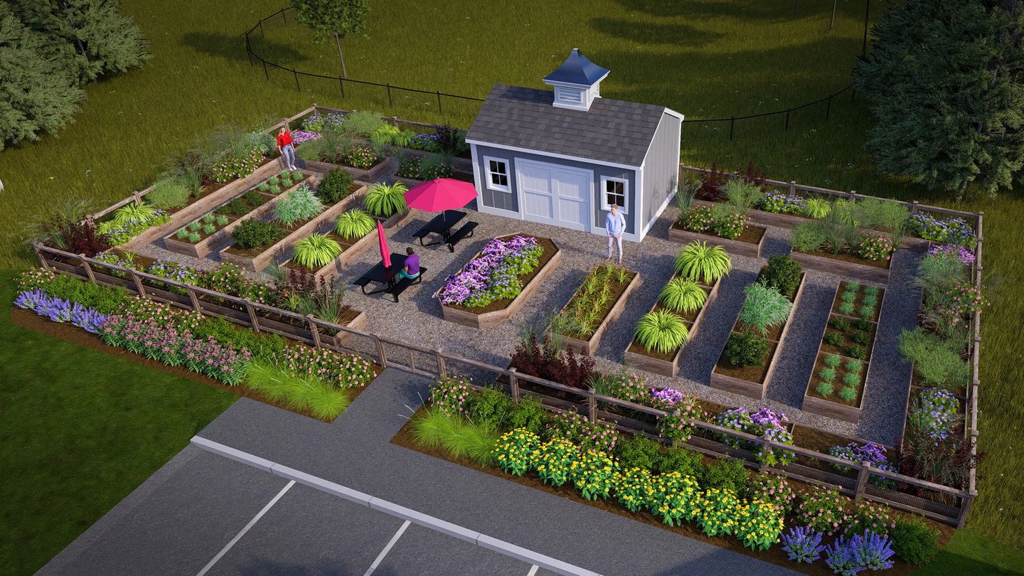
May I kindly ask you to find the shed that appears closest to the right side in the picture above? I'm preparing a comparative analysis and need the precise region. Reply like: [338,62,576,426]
[463,47,685,243]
